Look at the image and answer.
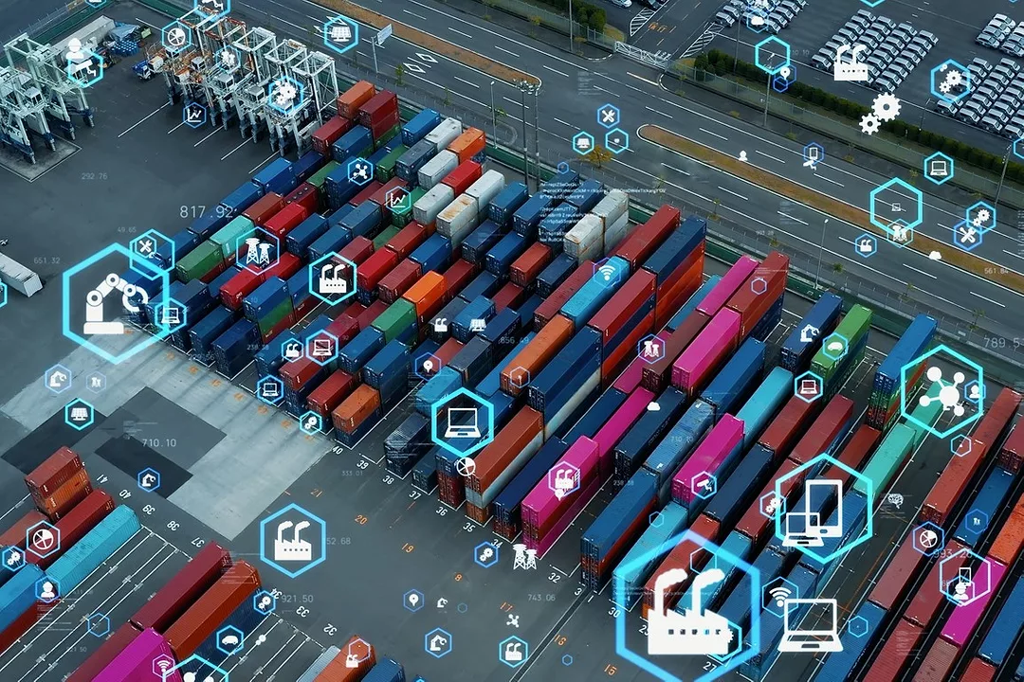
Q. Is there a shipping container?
Yes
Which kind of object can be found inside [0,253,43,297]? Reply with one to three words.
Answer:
shipping container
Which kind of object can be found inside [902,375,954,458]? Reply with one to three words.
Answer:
shipping container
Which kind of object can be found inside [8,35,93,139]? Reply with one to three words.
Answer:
work vehicle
